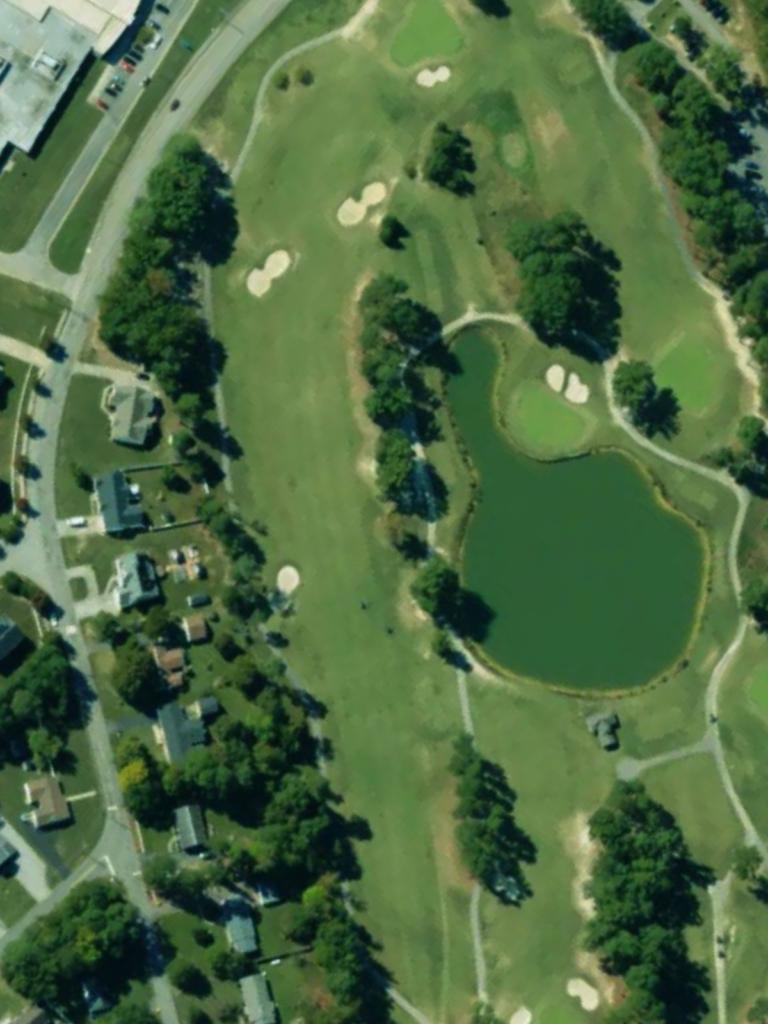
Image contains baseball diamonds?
No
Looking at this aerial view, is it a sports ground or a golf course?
golf course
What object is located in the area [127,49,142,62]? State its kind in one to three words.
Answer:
vehicle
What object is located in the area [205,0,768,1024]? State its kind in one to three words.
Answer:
golf course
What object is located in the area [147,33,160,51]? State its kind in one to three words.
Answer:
vehicle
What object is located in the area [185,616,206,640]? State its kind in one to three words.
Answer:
building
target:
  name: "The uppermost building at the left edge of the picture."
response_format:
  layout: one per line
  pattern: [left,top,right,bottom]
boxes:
[0,0,138,154]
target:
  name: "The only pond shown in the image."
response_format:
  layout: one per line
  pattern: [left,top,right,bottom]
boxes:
[449,330,705,689]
